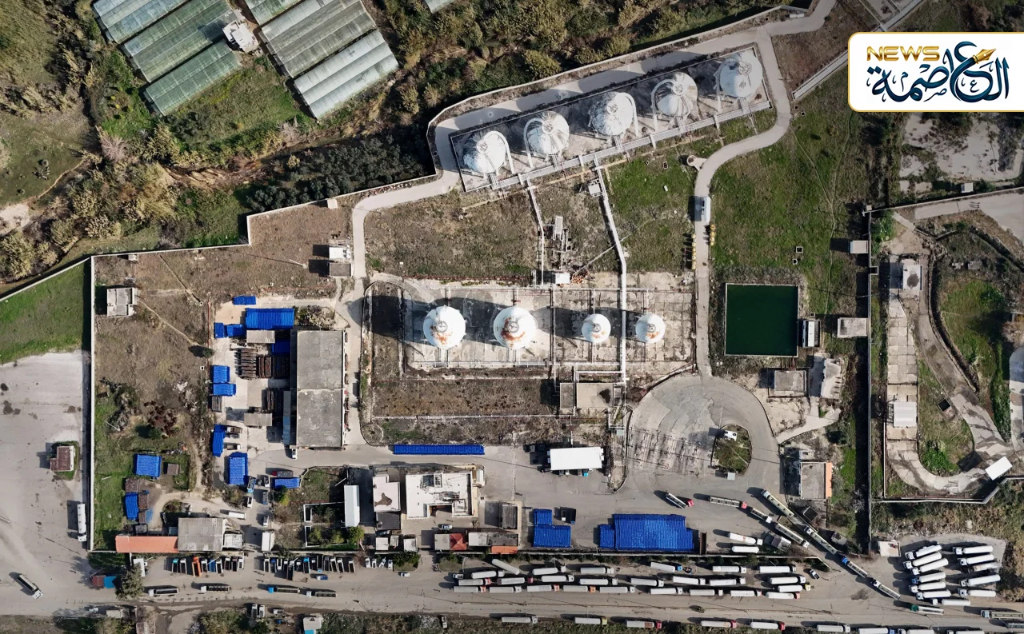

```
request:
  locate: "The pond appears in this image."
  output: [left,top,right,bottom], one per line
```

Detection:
[724,285,798,370]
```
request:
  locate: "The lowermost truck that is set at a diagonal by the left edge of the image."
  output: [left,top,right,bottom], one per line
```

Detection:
[18,573,45,598]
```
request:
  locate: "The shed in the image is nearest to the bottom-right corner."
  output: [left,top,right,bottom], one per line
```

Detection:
[875,539,900,557]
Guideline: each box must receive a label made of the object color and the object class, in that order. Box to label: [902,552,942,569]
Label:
white vehicle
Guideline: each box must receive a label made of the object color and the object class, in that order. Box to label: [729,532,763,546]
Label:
white vehicle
